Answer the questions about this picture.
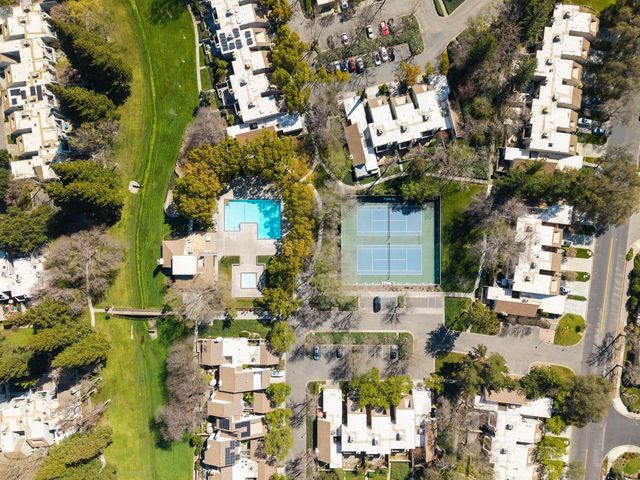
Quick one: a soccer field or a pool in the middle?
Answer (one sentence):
It is a pool that can be seen in the middle.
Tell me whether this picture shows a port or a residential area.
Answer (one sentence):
This image shows a residential area.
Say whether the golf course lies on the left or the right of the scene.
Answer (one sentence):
The golf course is on the left side of the image.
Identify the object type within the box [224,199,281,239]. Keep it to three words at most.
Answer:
swimming pool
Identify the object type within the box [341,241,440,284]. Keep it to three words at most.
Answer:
tennis court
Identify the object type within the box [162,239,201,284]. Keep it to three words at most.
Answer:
building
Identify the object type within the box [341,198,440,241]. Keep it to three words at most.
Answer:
tennis court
